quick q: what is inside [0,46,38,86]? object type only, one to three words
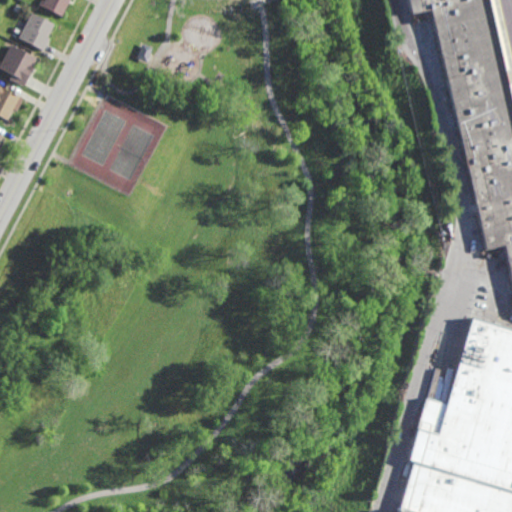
house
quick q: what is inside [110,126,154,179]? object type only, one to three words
tennis court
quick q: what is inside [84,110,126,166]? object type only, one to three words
tennis court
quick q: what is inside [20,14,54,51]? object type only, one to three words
house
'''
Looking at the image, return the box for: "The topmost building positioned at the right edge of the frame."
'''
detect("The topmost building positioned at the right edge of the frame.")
[406,0,512,296]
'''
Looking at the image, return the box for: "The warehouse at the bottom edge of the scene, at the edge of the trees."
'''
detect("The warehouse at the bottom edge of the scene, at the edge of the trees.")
[396,318,512,512]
